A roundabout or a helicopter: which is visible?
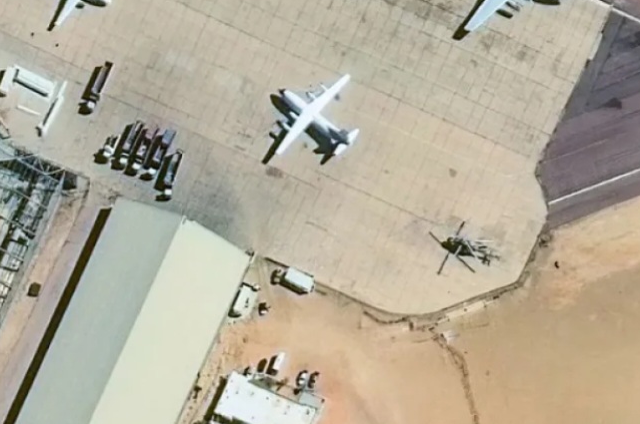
helicopter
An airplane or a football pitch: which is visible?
airplane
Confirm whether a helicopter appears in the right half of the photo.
Yes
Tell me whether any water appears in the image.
No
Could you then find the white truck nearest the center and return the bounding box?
[278,269,313,293]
